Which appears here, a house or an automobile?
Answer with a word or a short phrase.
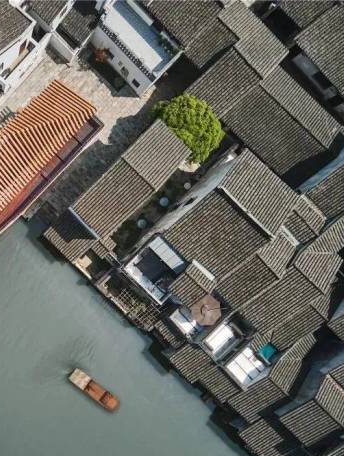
house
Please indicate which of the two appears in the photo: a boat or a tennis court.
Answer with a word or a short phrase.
boat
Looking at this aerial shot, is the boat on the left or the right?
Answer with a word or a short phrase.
left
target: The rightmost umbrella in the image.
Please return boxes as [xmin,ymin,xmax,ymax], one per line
[189,294,221,325]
